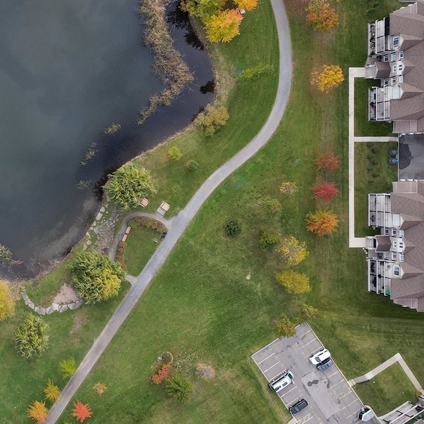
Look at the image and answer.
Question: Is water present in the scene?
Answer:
Yes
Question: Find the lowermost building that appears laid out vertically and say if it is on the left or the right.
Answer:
right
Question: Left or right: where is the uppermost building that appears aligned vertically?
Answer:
right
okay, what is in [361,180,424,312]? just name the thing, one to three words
building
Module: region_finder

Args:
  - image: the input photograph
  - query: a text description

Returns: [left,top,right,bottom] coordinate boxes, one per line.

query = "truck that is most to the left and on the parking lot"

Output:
[267,371,295,393]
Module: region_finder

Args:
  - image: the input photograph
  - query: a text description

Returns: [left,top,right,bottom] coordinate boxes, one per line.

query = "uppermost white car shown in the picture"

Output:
[308,348,331,365]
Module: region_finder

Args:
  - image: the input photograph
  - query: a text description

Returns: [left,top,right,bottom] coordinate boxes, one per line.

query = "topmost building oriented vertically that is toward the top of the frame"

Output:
[361,0,424,132]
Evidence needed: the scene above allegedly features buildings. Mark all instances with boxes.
[361,0,424,132]
[361,180,424,312]
[380,387,424,424]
